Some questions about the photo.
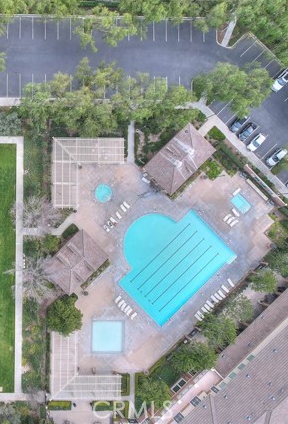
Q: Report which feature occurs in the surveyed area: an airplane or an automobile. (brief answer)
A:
automobile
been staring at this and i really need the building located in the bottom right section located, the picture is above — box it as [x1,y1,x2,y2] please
[139,261,288,424]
